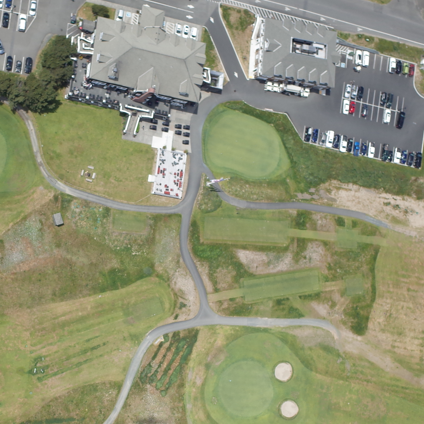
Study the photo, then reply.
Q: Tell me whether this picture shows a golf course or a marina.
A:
golf course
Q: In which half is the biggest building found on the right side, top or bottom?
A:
top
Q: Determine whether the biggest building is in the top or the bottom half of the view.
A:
top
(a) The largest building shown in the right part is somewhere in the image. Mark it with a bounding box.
[246,15,347,90]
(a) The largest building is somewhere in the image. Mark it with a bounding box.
[67,5,210,135]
